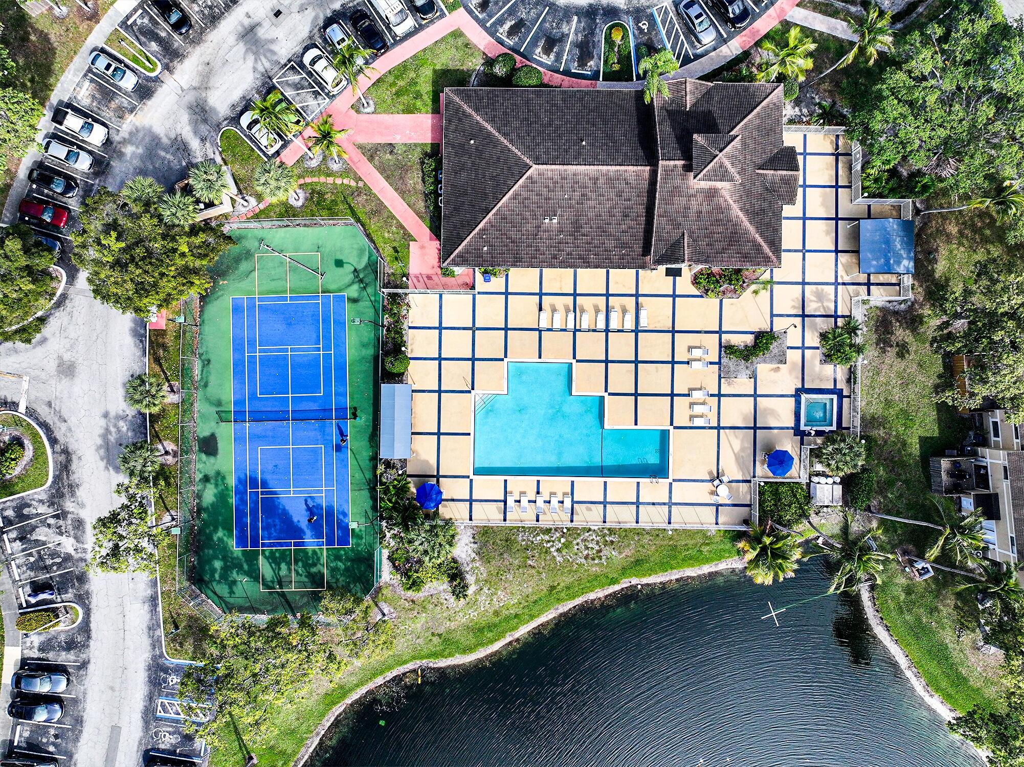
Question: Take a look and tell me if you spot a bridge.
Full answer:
No, there isn't any bridge down there.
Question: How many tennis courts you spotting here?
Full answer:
In total, there is 1 tennis court in the scene.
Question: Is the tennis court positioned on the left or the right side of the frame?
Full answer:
The tennis court appears in the left half of the scene.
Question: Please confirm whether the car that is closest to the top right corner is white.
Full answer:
No, the color of the car that is closest to the top right corner is black.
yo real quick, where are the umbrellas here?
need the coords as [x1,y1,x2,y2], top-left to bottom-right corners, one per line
[765,448,796,478]
[415,482,443,510]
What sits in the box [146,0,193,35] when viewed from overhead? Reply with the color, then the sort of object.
black car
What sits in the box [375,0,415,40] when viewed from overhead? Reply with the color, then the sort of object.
white vehicle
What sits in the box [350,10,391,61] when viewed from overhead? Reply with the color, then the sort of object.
black car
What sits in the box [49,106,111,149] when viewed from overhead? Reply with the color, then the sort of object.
white vehicle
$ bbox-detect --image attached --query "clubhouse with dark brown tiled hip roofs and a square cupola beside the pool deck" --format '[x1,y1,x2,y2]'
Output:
[441,74,806,276]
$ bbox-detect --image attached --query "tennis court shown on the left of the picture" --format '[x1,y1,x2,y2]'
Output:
[196,225,383,615]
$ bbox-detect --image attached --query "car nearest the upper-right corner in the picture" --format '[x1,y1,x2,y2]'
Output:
[708,0,747,36]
